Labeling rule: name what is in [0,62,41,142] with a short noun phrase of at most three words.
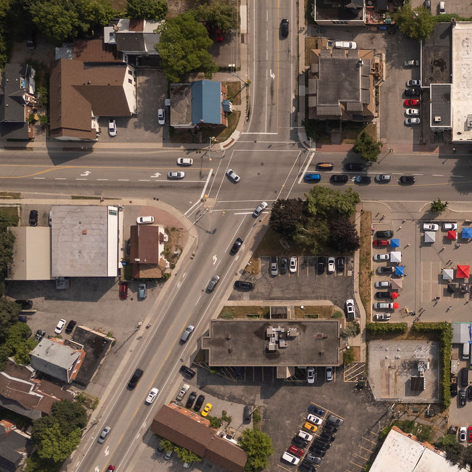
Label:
house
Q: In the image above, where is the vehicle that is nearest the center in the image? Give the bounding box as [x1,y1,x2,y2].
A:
[230,237,243,253]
